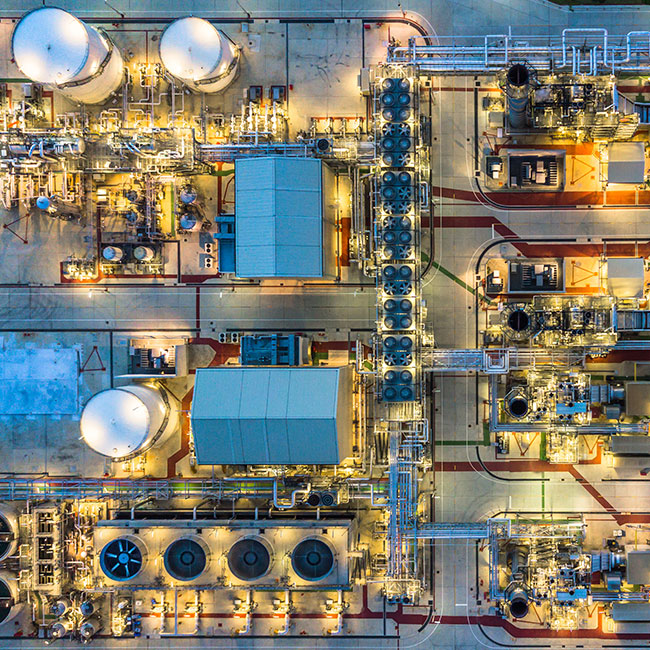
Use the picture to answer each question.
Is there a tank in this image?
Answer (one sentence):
Yes, the picture does show a tank.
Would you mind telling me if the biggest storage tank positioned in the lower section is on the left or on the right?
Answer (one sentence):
It is on the left.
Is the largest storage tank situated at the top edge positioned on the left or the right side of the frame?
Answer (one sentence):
The largest storage tank situated at the top edge is on the left side of the image.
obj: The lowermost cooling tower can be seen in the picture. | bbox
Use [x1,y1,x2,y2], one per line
[90,493,372,590]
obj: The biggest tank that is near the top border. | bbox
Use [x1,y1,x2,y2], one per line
[9,5,125,106]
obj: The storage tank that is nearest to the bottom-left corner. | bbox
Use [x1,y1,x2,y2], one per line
[78,383,180,462]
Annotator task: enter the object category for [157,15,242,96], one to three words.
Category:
storage tank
